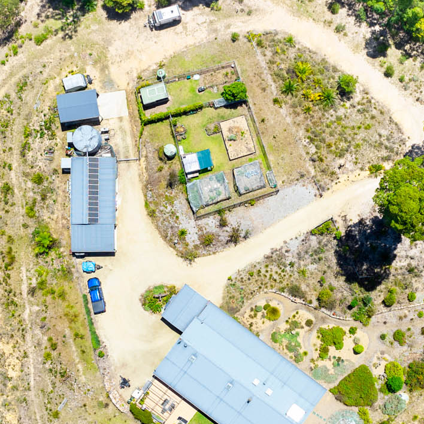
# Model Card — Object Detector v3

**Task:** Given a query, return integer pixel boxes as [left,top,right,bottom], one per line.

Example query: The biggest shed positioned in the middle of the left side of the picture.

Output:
[71,157,120,253]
